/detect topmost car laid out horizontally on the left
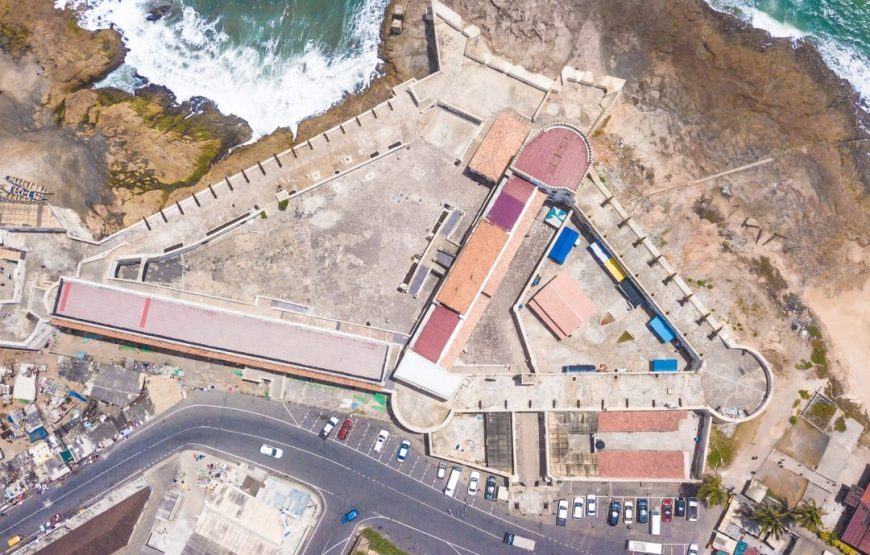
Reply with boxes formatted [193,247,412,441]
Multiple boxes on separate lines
[260,445,284,458]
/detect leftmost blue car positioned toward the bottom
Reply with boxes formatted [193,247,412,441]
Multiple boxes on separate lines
[341,507,359,525]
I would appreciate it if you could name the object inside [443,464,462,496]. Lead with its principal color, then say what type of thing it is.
white vehicle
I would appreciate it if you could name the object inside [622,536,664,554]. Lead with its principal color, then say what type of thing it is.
white vehicle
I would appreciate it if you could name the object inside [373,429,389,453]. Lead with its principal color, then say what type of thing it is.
white car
